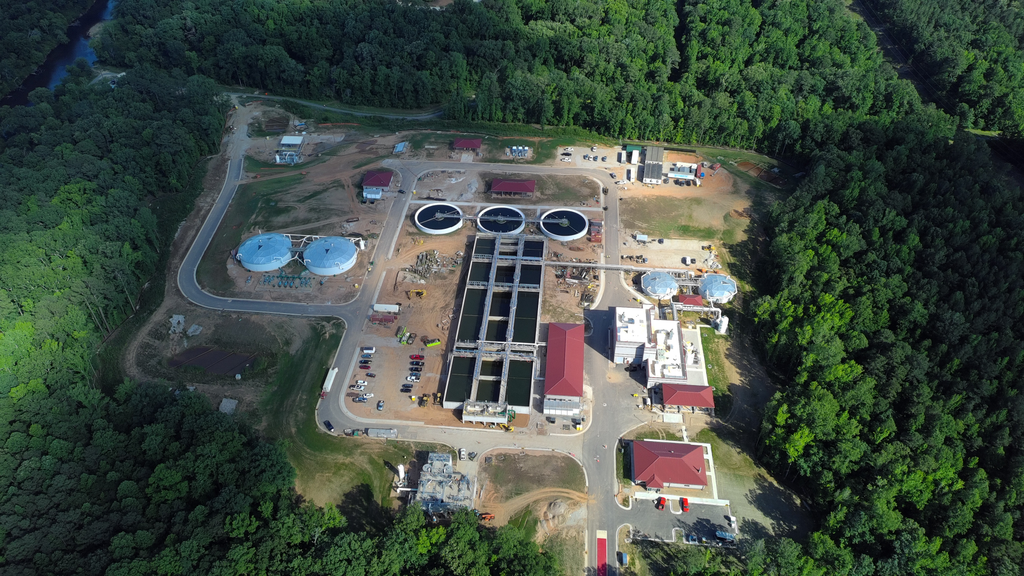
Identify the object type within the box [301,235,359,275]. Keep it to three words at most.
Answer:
storage tank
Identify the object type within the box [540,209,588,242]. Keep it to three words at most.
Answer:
storage tank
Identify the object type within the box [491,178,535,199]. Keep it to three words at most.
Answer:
building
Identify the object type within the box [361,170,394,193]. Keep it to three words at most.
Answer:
building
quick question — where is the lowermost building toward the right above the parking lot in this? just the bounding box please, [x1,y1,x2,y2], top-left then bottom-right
[633,441,707,493]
